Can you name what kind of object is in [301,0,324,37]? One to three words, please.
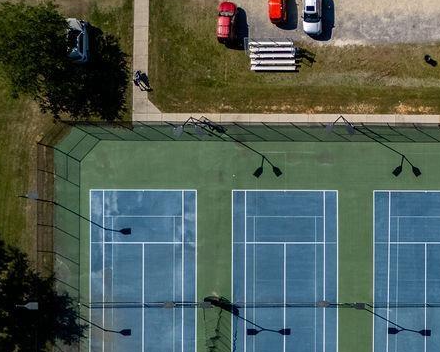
car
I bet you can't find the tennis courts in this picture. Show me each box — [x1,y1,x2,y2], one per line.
[89,190,197,352]
[231,152,338,352]
[372,191,440,352]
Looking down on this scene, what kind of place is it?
sports ground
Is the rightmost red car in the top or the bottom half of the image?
top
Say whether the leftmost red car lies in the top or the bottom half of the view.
top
